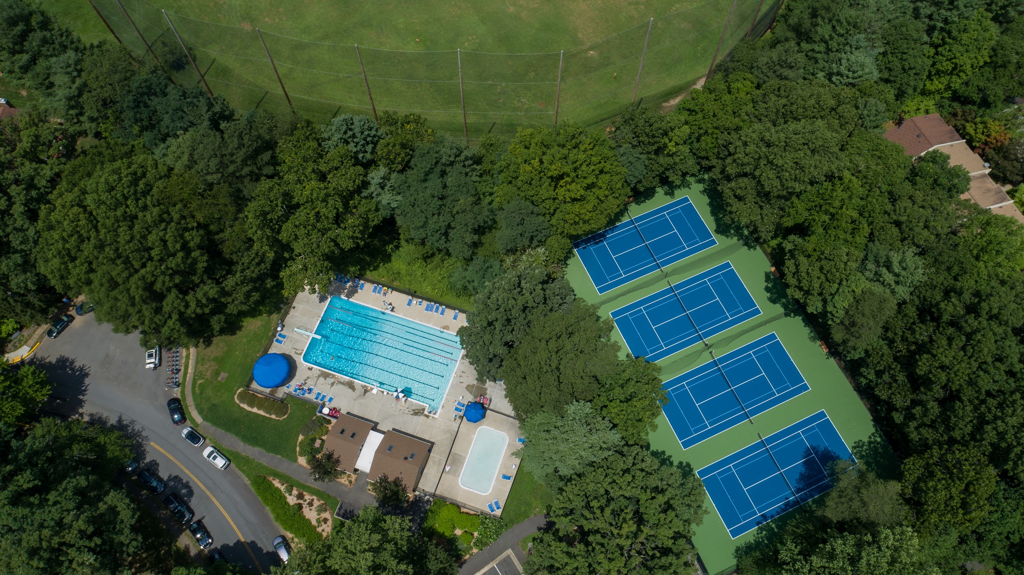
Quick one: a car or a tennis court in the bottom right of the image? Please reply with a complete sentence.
What appears in the bottom right of the image is a tennis court.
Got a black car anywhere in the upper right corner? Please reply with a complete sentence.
No, there is no black car in the upper right corner.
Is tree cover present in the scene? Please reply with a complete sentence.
Yes, there's tree cover in this view.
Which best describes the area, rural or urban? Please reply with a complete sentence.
From above, the setting appears rural.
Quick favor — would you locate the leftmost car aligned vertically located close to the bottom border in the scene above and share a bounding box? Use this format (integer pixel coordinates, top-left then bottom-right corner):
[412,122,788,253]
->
[273,532,289,564]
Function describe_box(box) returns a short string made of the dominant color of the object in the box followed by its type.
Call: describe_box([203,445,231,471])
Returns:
white car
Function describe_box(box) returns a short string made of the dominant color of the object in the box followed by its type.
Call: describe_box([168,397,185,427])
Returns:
black car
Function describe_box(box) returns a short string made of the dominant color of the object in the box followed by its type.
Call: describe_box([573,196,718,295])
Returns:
blue tennis court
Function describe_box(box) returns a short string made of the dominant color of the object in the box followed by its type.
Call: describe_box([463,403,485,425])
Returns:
blue umbrella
